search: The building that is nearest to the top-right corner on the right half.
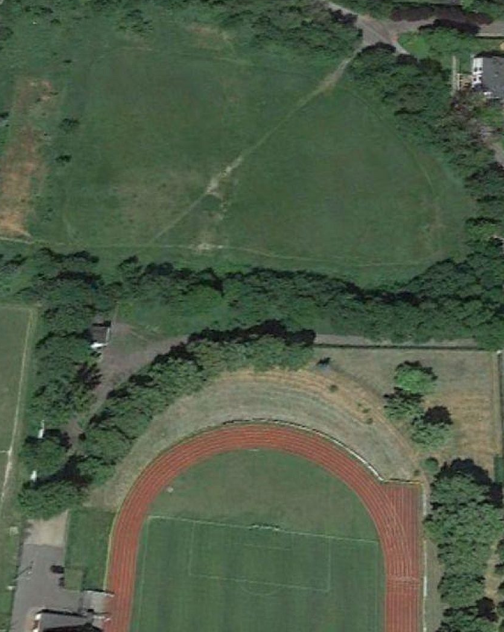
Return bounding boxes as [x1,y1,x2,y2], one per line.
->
[469,57,504,94]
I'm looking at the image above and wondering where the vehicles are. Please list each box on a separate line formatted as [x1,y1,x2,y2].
[52,568,62,573]
[58,577,65,587]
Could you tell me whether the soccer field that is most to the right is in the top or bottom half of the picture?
bottom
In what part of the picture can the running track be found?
bottom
